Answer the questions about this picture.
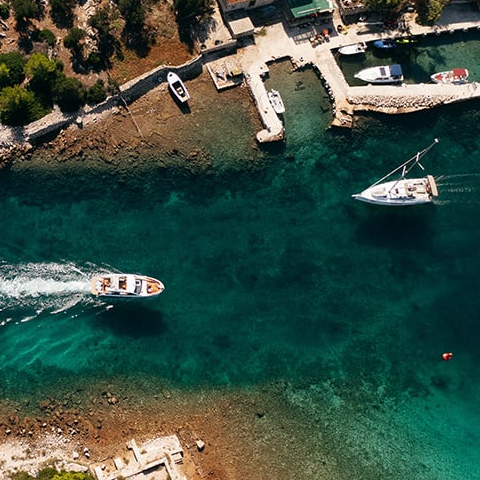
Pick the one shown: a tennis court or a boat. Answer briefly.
boat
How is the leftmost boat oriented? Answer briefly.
from left to right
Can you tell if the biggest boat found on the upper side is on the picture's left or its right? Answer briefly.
right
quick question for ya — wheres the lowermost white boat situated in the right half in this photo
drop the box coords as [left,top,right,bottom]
[354,141,445,206]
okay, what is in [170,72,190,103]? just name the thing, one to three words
boat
